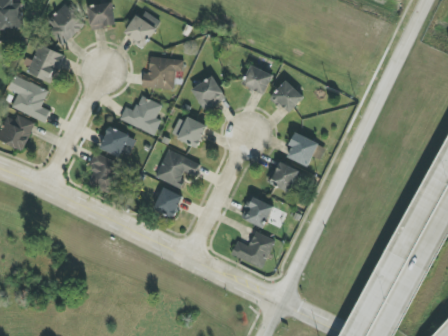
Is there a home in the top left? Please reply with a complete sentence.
Yes, a home can be seen in the top left.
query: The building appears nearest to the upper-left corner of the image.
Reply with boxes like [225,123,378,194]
[0,0,24,29]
